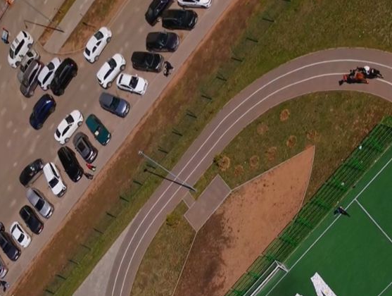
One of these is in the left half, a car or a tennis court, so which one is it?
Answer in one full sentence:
Looking in the left half, you will find a car.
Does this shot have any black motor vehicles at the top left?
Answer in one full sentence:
Yes, looking at the top left, one can make out a black motor vehicle.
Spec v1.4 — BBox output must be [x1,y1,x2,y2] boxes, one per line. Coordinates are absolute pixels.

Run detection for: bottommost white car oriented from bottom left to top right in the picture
[55,111,84,146]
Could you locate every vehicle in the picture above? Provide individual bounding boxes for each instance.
[144,0,177,28]
[8,31,34,69]
[37,56,63,91]
[21,58,44,98]
[56,146,84,183]
[70,130,98,165]
[129,51,164,74]
[41,162,67,197]
[28,92,56,132]
[15,155,45,190]
[20,205,43,234]
[0,231,20,261]
[98,53,126,90]
[28,188,53,219]
[117,74,149,96]
[161,7,198,32]
[50,58,78,98]
[86,114,110,146]
[0,253,10,281]
[146,31,178,53]
[177,0,211,11]
[100,92,129,117]
[86,28,112,65]
[55,111,84,146]
[9,219,32,250]
[17,48,42,84]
